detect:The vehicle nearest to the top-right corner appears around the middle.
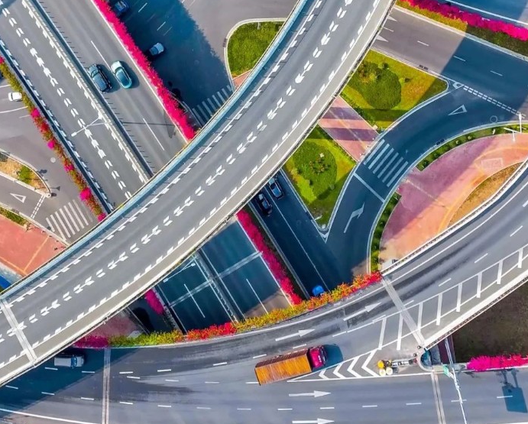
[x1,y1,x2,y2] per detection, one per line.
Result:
[266,176,287,205]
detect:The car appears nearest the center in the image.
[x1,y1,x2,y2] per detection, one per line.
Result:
[251,191,274,220]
